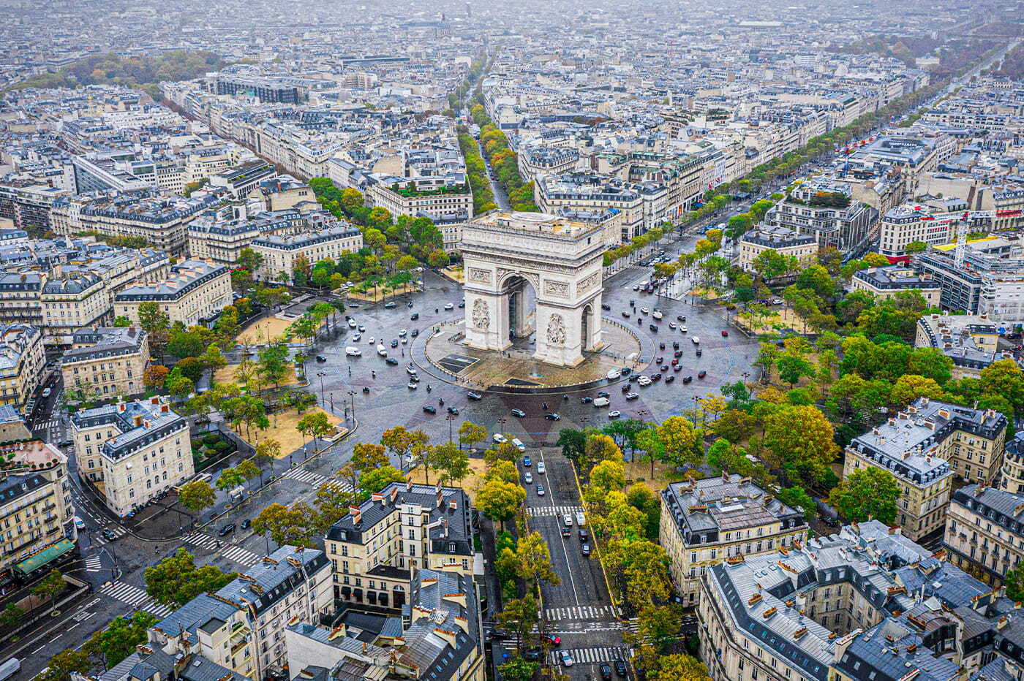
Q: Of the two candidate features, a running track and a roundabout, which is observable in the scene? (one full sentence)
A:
The image shows a roundabout.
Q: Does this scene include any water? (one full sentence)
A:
No, the scene doesn't show any water.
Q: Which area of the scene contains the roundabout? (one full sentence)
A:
Look in the center portion of the view to spot the roundabout.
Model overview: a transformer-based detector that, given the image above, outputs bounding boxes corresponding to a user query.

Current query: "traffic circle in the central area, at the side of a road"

[255,275,807,473]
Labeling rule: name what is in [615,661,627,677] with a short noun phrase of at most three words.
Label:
vehicle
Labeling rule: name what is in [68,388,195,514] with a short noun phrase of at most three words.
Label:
house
